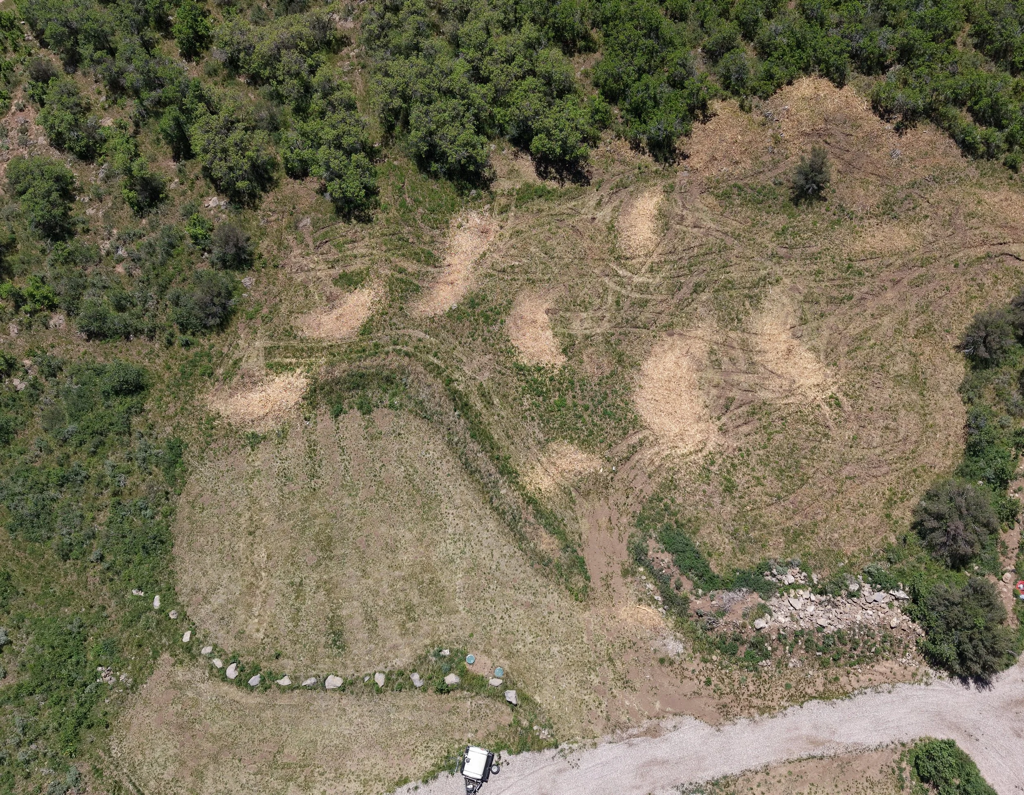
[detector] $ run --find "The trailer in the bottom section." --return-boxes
[458,738,496,795]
